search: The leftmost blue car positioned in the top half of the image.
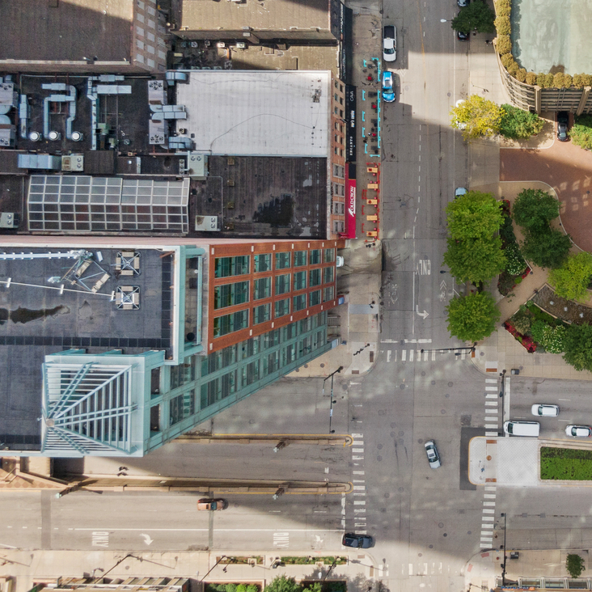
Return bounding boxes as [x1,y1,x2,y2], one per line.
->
[383,73,395,102]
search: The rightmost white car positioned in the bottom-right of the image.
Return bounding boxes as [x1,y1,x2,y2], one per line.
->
[567,424,592,437]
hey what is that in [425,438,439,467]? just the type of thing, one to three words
car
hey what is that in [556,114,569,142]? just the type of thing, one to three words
vehicle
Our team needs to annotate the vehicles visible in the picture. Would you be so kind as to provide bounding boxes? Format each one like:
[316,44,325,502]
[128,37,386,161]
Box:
[556,114,569,142]
[503,420,540,435]
[344,532,375,549]
[199,496,228,510]
[334,255,355,266]
[383,73,395,102]
[567,424,592,437]
[458,24,469,42]
[425,438,439,467]
[384,25,397,63]
[531,403,559,417]
[458,0,467,9]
